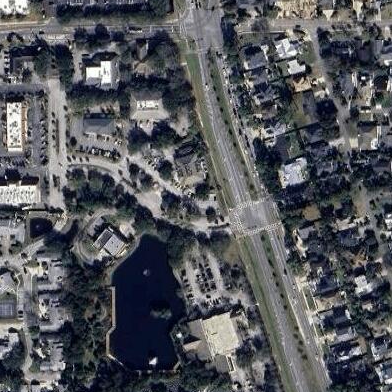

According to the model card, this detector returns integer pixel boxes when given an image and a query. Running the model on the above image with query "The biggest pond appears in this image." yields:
[109,235,186,370]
